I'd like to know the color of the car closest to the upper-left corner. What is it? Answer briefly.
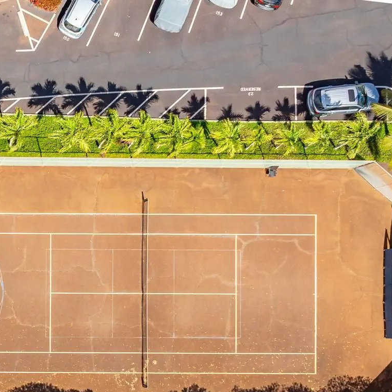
white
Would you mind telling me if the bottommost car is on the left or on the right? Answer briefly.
right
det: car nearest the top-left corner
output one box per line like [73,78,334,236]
[59,0,104,41]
